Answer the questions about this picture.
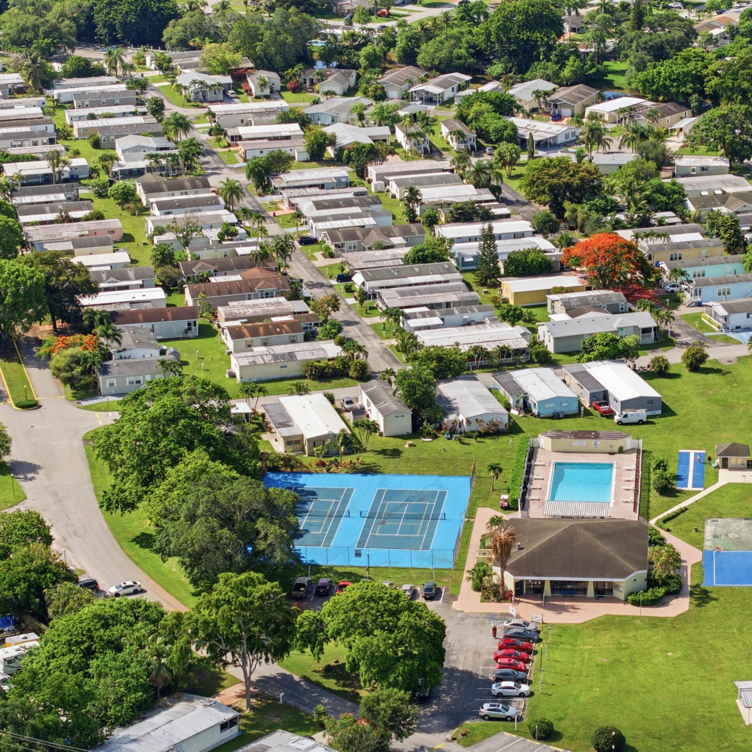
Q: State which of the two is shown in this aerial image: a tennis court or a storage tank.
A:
tennis court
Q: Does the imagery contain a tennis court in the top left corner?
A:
No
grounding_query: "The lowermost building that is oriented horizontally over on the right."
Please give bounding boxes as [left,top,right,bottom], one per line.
[479,519,649,598]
